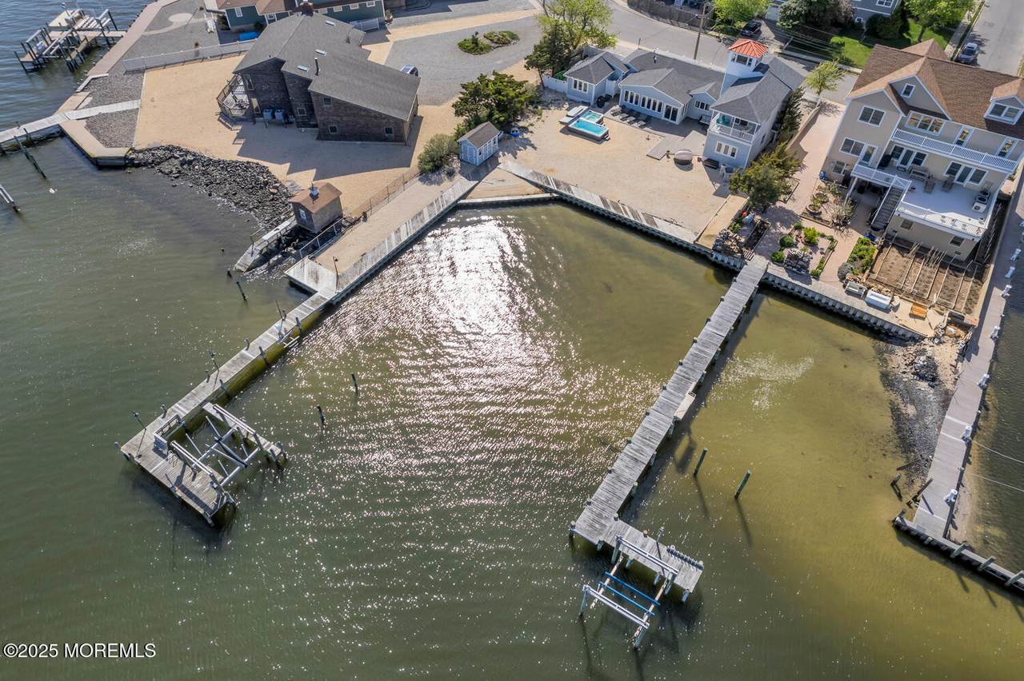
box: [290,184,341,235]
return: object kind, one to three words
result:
building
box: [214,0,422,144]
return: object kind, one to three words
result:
house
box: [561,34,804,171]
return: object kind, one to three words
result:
house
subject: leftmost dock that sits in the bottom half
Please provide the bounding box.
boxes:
[112,292,338,534]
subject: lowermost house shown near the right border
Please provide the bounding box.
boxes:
[823,39,1024,257]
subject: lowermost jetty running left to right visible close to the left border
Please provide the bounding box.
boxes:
[0,100,140,150]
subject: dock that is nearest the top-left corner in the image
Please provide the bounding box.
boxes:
[14,8,124,73]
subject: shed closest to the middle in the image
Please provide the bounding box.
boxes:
[454,123,503,167]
